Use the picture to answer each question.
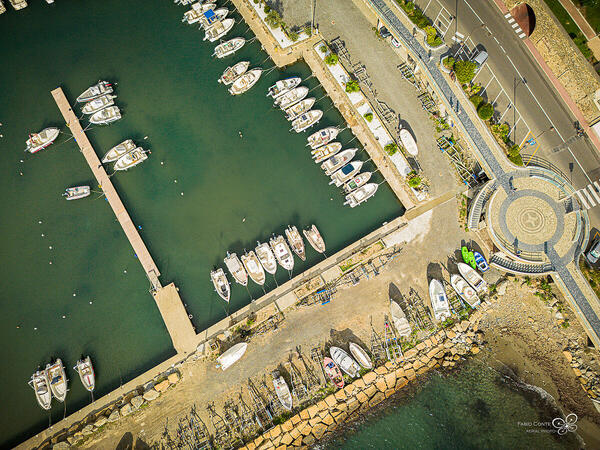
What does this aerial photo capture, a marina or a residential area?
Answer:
marina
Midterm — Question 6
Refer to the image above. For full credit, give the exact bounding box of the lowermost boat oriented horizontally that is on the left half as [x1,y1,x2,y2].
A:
[62,186,103,200]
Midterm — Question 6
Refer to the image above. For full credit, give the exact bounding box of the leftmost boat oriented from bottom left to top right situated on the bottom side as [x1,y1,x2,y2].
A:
[216,343,247,368]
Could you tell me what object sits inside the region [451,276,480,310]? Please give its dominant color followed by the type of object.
white boat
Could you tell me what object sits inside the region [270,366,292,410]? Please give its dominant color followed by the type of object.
white boat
